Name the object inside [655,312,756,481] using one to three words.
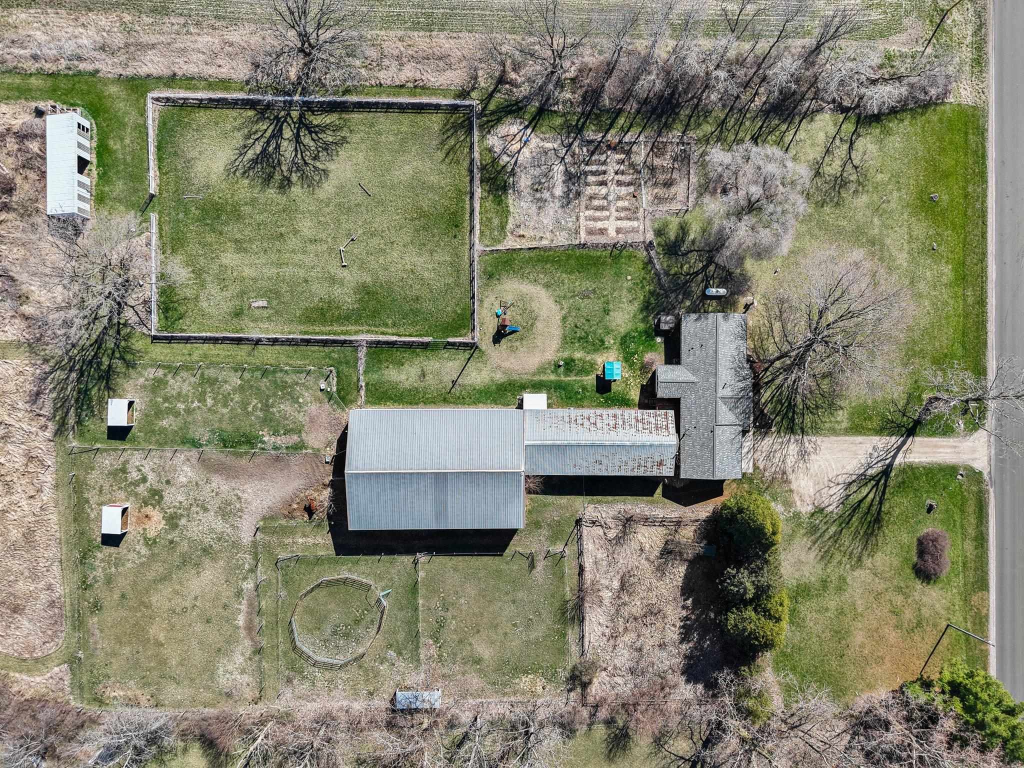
house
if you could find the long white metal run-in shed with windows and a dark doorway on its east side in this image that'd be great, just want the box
[46,114,90,218]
